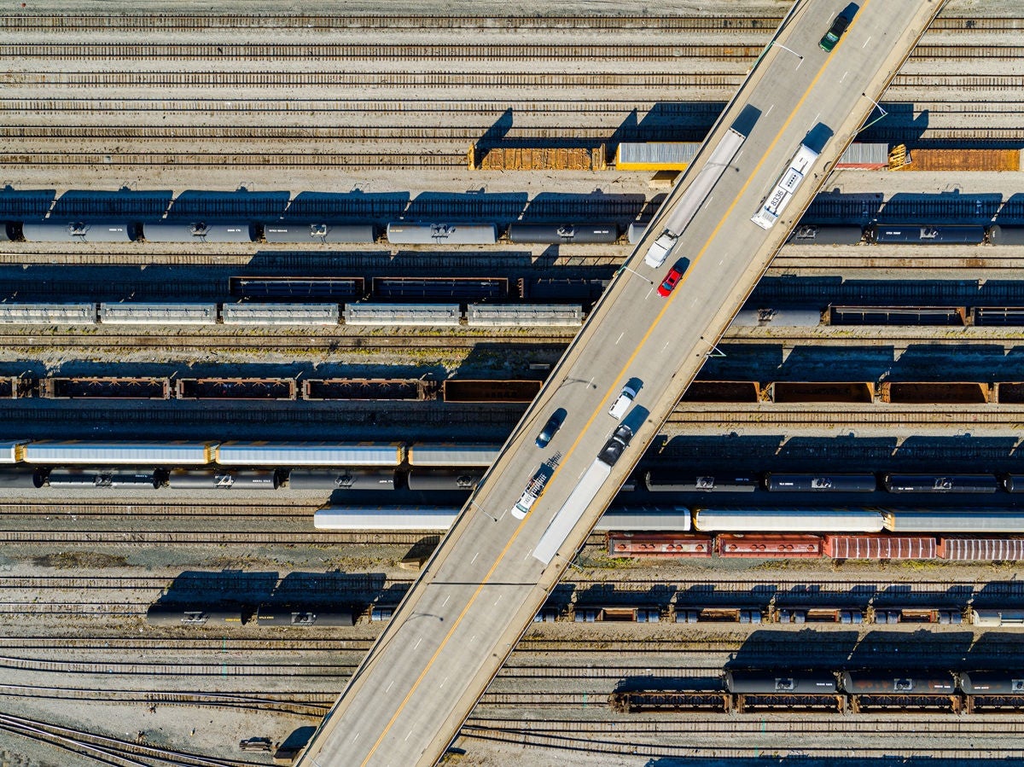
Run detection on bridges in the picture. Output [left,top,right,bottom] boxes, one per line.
[274,0,943,767]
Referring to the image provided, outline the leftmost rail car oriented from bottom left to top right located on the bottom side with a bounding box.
[620,469,641,491]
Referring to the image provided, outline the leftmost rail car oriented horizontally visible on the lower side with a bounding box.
[0,467,51,489]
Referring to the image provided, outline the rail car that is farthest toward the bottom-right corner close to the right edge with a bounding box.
[954,667,1024,696]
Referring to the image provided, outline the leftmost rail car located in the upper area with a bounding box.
[0,222,20,245]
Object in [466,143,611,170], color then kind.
orange rail car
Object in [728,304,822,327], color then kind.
gray rail car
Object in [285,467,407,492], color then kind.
gray rail car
